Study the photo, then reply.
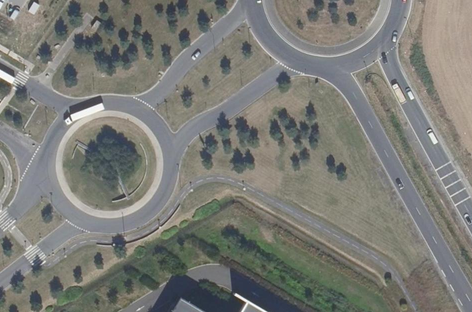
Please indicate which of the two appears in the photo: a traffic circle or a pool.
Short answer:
traffic circle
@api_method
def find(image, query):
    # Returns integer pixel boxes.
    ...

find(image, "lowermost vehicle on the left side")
[64,101,104,123]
